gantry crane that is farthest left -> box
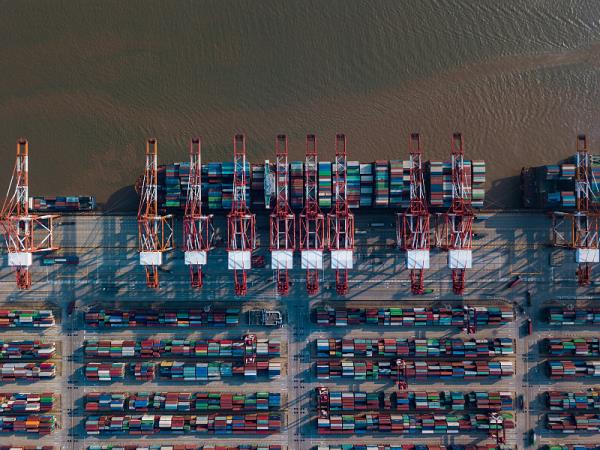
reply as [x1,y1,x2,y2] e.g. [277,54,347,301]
[0,138,66,291]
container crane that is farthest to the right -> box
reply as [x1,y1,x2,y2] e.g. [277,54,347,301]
[538,138,600,291]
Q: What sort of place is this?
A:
port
